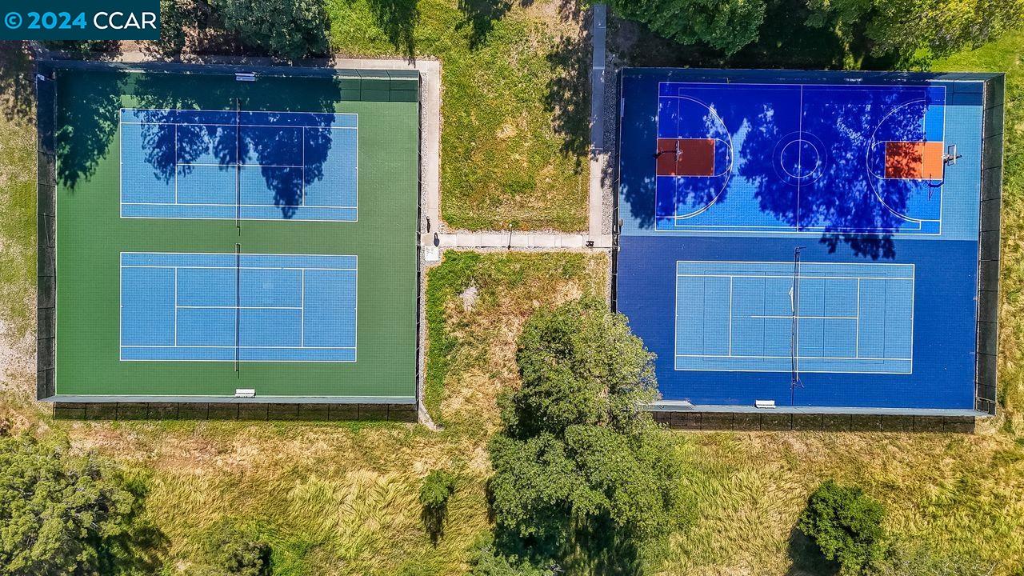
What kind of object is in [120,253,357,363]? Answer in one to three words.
tennis court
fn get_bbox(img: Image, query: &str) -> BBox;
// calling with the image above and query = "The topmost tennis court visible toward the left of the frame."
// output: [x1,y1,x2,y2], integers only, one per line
[120,109,358,221]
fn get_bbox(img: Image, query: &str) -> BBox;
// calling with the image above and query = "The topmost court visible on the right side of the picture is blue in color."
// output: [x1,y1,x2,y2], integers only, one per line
[656,82,945,235]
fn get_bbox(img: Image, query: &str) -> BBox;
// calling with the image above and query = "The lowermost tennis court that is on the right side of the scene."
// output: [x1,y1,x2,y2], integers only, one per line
[675,261,915,373]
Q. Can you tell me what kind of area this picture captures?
sports ground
